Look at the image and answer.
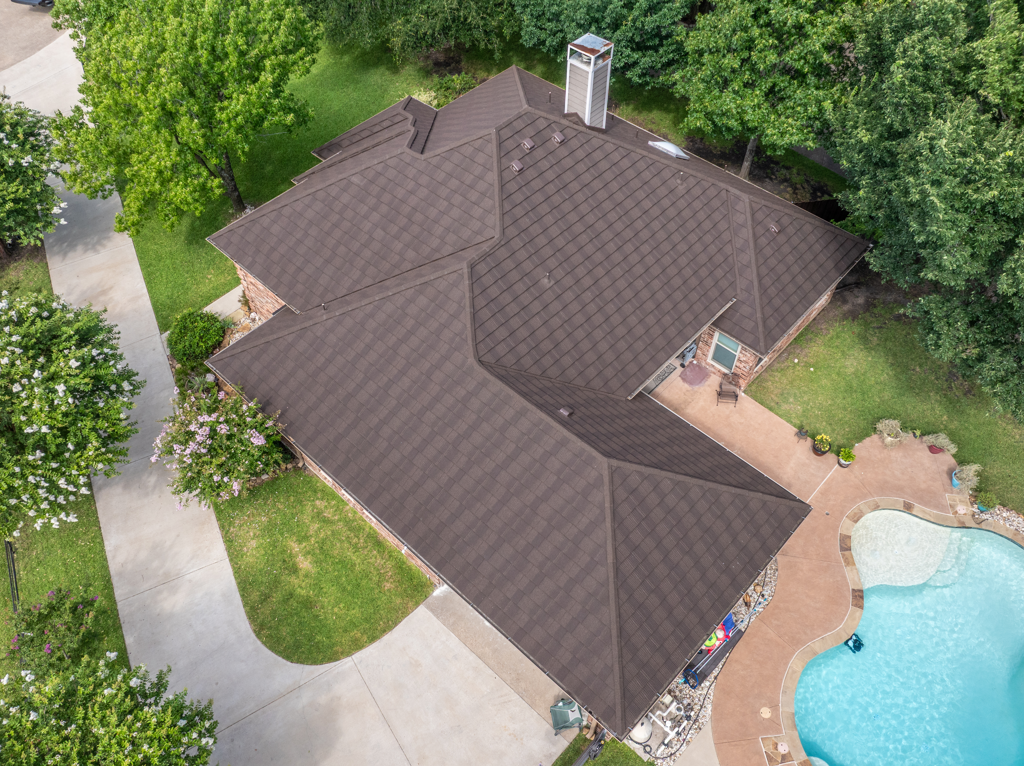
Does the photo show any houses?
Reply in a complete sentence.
Yes, looking at the shot, I can spot a house.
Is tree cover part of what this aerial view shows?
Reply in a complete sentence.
Yes, the picture does contain tree cover.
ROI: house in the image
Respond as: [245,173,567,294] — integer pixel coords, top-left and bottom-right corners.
[205,33,873,744]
